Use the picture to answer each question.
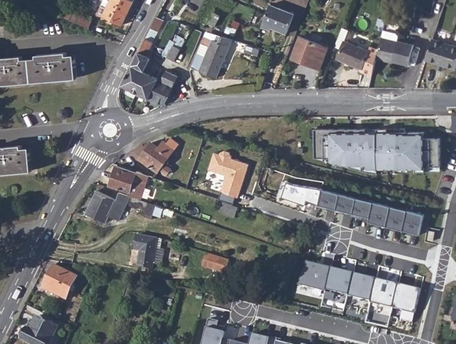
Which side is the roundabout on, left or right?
left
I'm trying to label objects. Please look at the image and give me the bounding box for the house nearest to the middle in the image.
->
[208,151,249,217]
